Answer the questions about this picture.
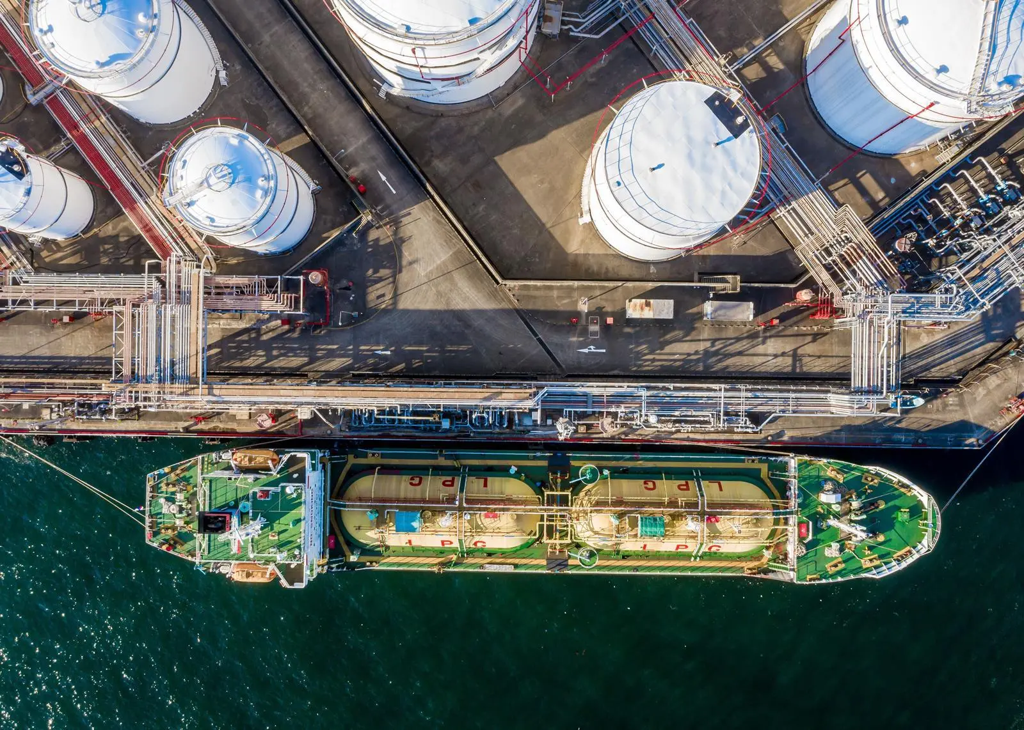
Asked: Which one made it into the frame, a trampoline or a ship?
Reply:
ship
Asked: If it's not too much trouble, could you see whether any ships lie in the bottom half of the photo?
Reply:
Yes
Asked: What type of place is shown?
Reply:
industrial area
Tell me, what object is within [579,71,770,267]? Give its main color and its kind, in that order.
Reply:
white storage tank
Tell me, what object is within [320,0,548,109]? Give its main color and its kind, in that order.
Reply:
white storage tank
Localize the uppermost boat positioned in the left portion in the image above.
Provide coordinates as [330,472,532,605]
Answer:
[230,449,282,469]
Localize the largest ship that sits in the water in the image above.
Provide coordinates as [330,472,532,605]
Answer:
[137,449,946,589]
